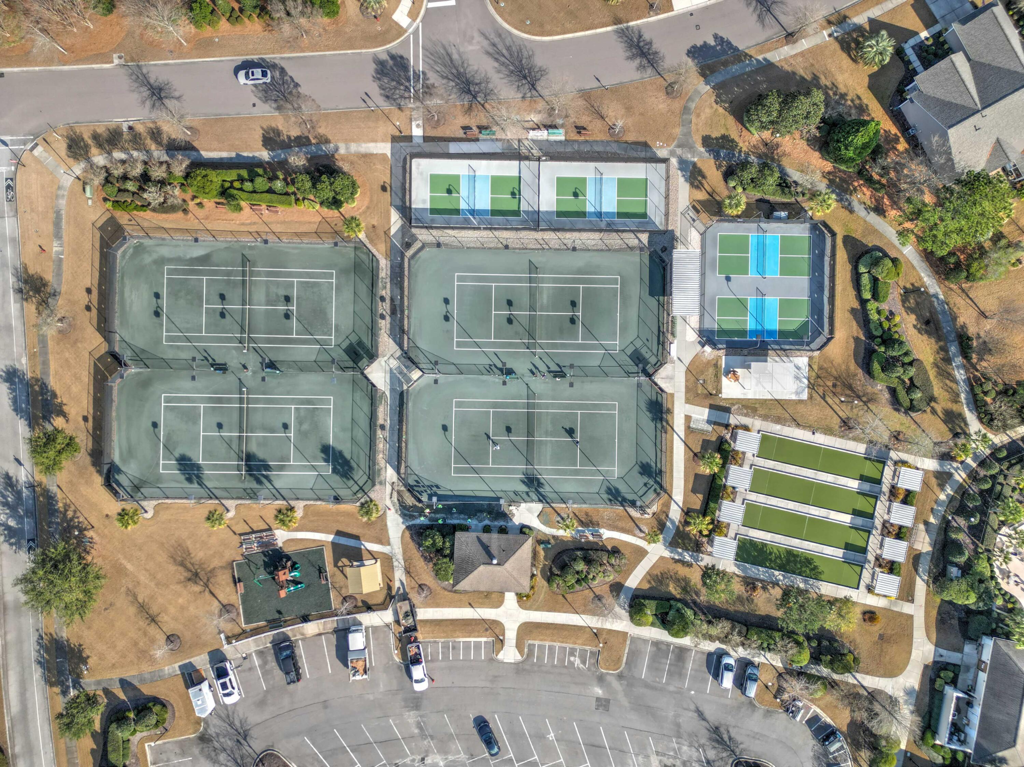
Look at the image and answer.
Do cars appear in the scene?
Yes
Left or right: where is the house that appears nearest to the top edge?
right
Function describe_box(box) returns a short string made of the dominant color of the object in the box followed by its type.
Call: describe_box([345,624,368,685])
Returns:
white truck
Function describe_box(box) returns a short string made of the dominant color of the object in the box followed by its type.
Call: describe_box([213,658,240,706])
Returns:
white truck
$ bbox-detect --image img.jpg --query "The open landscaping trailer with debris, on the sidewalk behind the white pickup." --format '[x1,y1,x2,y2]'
[393,586,421,642]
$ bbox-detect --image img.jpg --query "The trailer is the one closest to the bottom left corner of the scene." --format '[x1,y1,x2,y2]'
[184,671,211,722]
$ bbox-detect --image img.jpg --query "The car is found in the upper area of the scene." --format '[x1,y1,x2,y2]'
[237,67,272,86]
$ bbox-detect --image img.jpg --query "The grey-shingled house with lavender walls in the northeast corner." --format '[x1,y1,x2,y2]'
[897,0,1024,187]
